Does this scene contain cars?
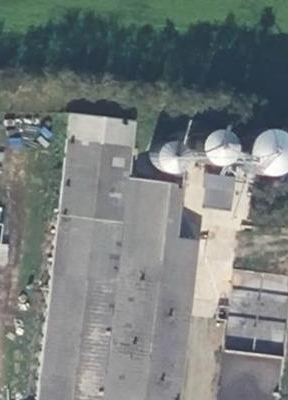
No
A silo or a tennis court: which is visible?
silo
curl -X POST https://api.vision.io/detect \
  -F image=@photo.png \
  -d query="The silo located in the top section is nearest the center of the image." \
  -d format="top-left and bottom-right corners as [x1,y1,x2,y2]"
[150,140,194,178]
